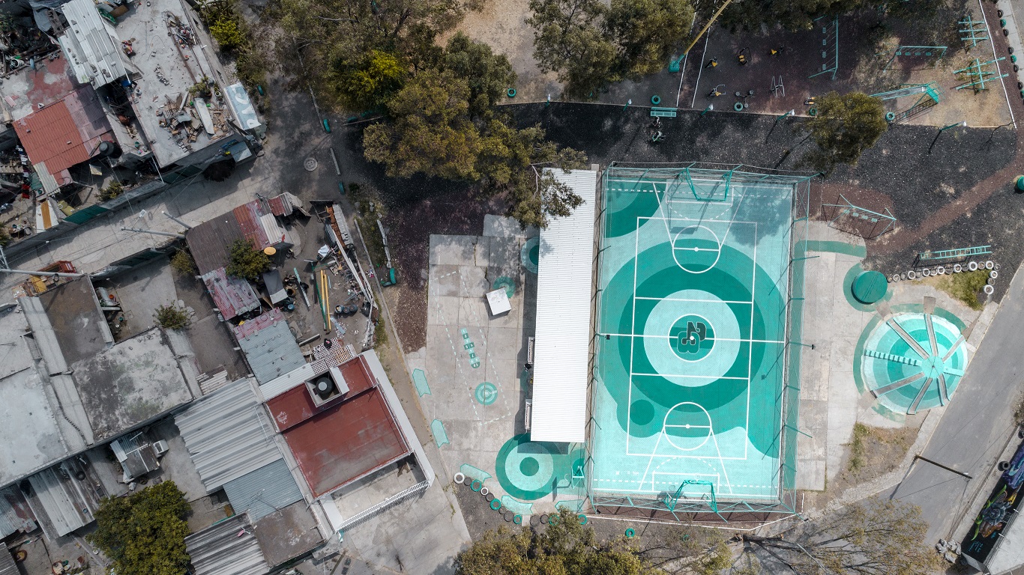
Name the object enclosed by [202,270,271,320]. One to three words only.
shed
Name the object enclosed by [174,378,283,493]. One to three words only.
shed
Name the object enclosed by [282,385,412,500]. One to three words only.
house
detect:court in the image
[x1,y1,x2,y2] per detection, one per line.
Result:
[587,172,799,507]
